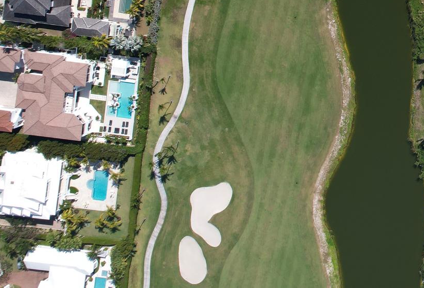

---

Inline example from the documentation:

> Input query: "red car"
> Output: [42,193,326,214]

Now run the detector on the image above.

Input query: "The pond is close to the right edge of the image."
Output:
[325,0,424,288]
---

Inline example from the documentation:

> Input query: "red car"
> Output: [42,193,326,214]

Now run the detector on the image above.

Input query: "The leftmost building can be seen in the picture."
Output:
[0,110,18,133]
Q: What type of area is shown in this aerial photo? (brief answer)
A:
golf course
